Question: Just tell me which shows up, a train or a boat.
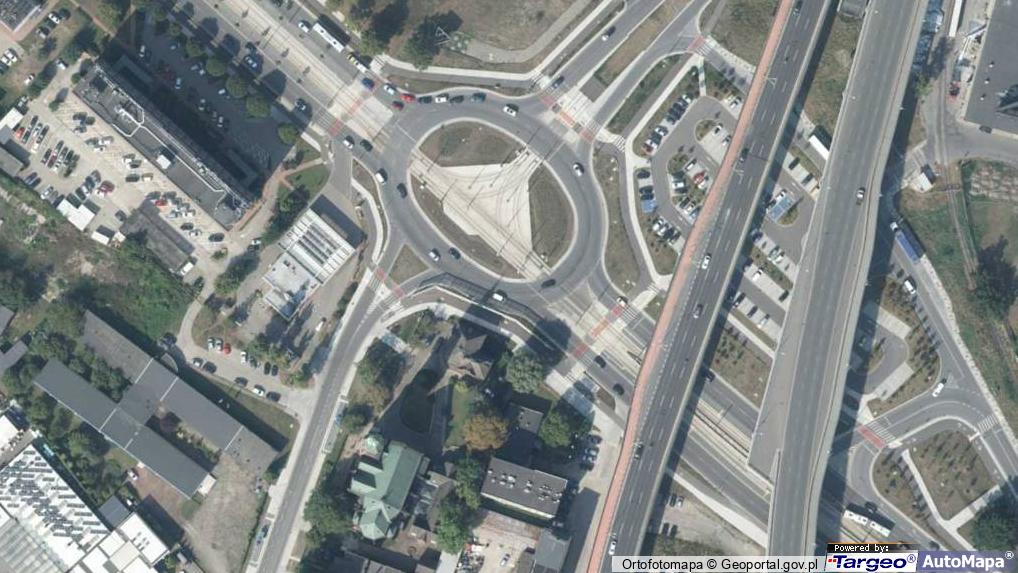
train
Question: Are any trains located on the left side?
No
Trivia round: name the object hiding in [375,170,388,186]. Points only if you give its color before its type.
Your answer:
white vehicle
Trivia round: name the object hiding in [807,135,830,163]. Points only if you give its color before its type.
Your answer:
white truck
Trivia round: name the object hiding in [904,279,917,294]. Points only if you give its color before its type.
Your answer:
white vehicle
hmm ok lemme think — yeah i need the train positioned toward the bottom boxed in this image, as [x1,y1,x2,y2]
[842,510,891,537]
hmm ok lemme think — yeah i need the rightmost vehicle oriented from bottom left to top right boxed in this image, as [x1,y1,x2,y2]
[932,382,944,398]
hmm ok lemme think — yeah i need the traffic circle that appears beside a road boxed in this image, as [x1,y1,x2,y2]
[350,71,606,338]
